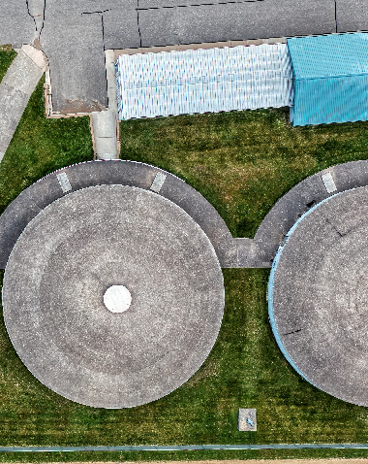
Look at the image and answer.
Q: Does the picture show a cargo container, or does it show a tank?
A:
tank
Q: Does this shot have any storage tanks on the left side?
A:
Yes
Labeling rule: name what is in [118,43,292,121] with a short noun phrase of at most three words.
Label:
shed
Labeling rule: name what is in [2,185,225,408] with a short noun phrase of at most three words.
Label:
storage tank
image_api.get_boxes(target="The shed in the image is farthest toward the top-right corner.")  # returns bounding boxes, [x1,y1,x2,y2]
[283,32,368,126]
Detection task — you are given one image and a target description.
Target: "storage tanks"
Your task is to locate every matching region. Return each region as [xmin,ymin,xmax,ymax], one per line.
[269,187,368,407]
[2,185,225,408]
